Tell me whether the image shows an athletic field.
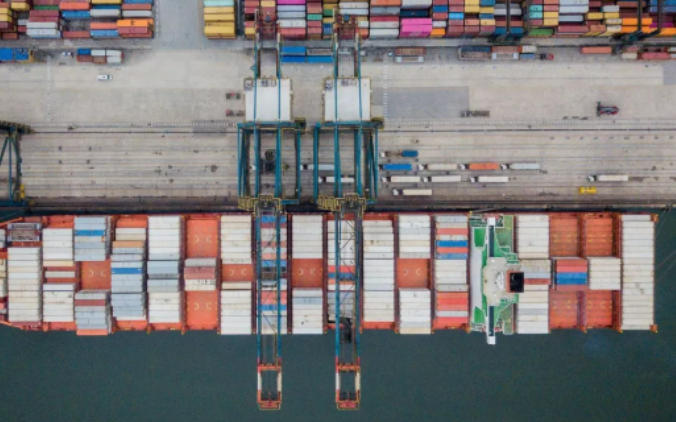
No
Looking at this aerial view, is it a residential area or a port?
port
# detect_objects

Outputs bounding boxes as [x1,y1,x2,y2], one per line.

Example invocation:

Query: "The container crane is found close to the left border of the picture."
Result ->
[0,116,44,206]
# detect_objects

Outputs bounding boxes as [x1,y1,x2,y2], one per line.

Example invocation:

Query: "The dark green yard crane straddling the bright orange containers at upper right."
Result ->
[609,0,661,44]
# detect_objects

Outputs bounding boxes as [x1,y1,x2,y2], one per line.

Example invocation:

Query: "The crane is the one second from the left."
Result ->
[235,10,312,409]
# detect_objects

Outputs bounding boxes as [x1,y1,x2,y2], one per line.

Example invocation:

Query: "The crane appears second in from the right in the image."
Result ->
[487,0,528,44]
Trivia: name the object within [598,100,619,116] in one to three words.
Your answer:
work vehicle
